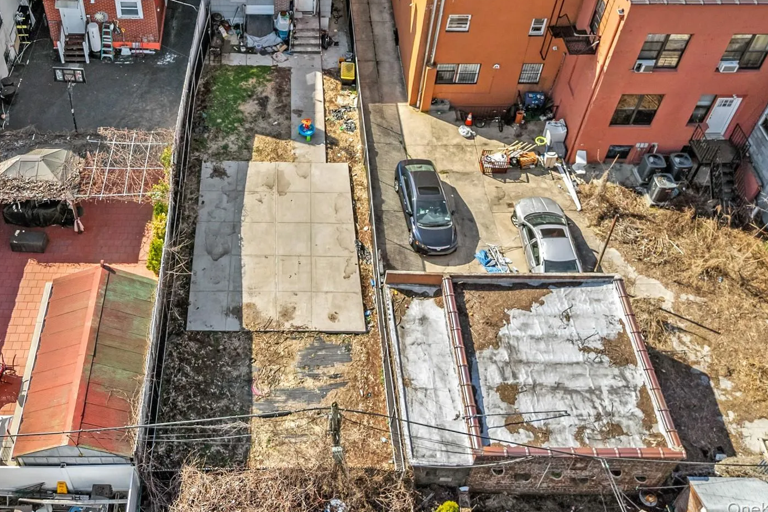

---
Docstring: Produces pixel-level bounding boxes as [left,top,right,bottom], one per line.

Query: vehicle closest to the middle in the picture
[401,161,462,259]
